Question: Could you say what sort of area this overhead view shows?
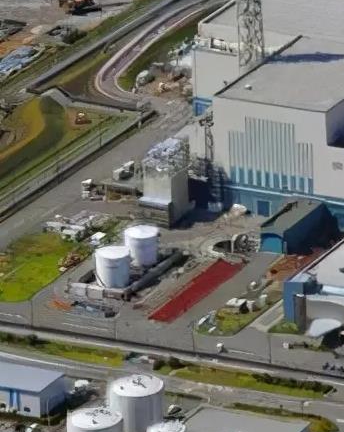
industrial area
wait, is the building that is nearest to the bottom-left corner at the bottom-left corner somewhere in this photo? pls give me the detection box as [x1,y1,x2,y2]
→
[0,360,69,417]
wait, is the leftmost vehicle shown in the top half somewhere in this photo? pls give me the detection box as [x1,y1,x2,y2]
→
[68,106,87,122]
